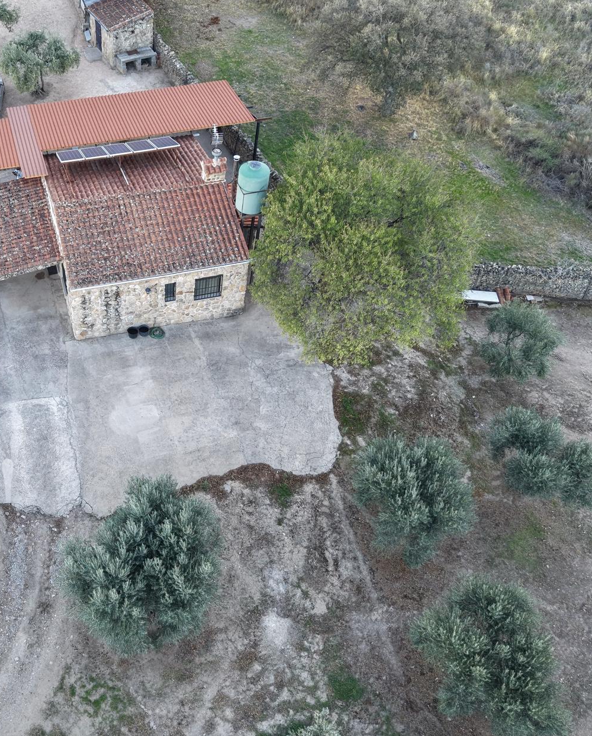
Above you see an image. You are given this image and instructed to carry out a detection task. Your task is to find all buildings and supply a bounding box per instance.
[41,132,262,339]
[82,0,159,66]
